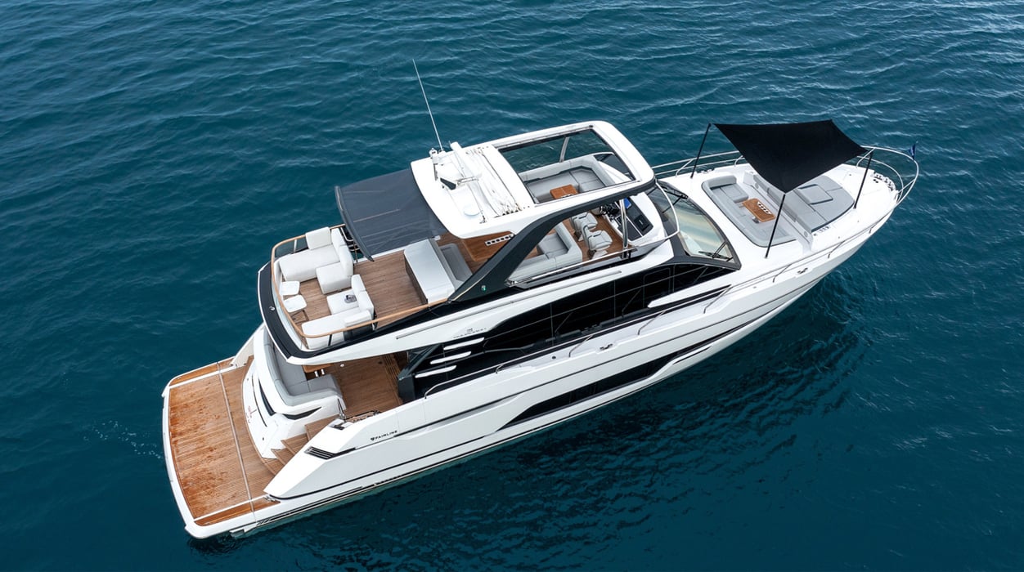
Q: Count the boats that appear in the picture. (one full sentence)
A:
In total, 1 boat can be seen.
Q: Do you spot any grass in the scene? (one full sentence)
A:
No, there is no grass in the image.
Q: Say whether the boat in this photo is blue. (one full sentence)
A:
No, the color of the boat is white.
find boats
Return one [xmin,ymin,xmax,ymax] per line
[162,59,919,539]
